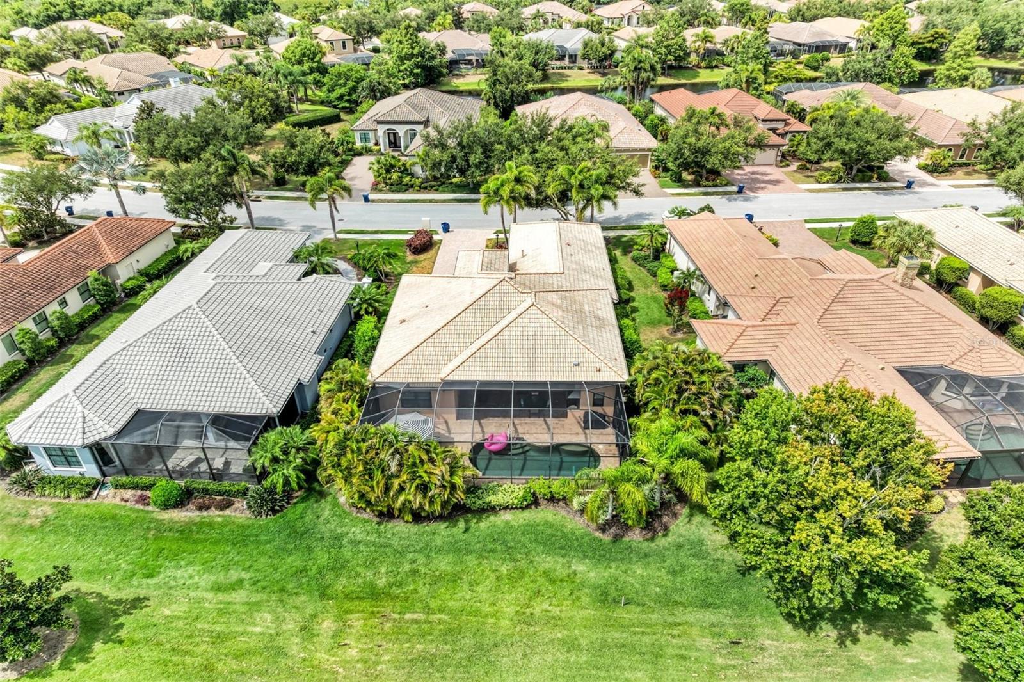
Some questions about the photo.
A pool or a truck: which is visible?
pool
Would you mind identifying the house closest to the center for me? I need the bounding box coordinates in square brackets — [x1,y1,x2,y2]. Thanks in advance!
[368,220,629,412]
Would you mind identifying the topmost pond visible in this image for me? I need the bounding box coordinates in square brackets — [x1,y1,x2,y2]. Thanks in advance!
[359,68,1024,108]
